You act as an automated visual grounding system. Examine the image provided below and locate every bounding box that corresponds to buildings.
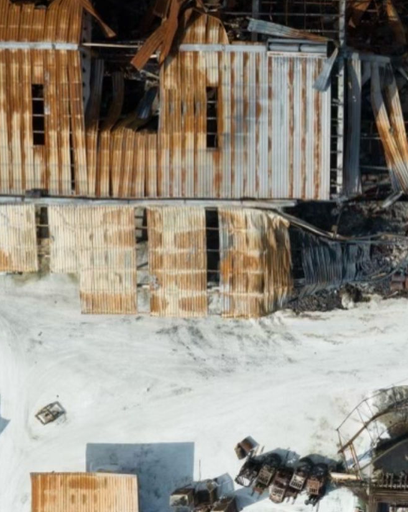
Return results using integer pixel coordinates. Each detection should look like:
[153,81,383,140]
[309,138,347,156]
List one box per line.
[0,0,408,318]
[30,472,138,512]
